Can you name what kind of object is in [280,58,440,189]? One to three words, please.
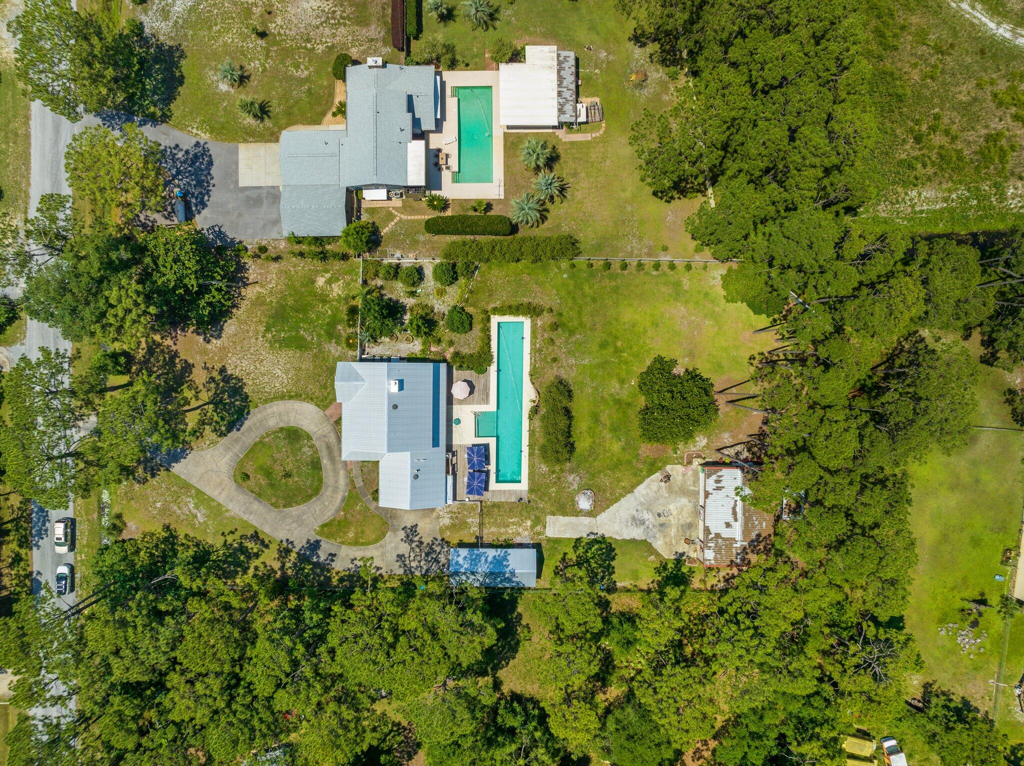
house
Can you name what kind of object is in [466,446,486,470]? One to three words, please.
umbrella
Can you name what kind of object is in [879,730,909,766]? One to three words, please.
truck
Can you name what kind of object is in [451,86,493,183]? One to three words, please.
swimming pool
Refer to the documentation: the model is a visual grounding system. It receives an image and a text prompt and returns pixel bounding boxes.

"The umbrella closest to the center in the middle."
[452,381,470,399]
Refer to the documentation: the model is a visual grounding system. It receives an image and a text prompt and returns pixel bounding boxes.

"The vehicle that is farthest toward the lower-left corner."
[55,561,74,594]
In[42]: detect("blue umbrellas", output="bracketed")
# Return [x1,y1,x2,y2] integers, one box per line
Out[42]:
[466,446,486,470]
[466,471,486,496]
